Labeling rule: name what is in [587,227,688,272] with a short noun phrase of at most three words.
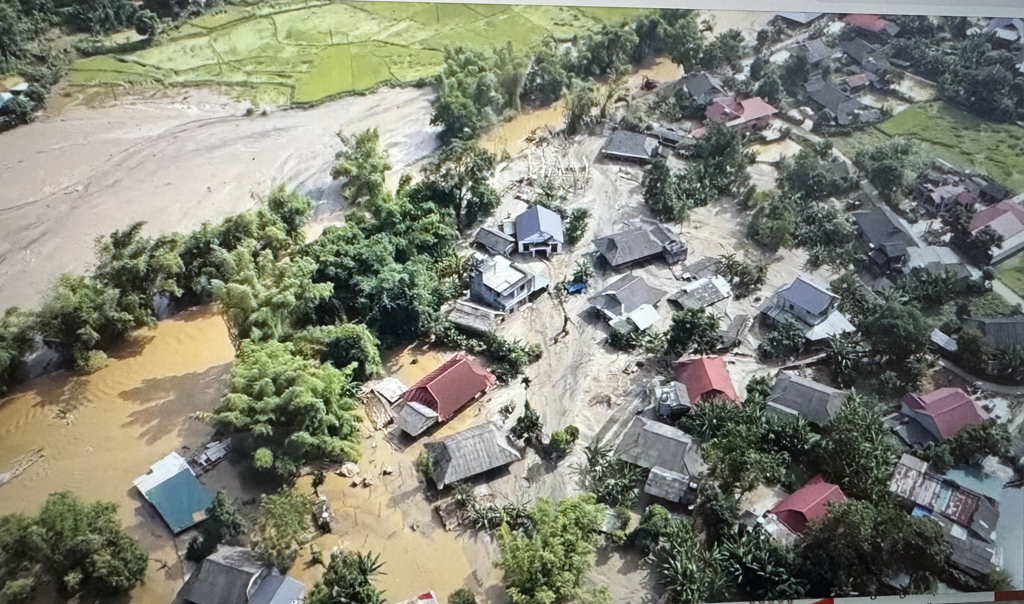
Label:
house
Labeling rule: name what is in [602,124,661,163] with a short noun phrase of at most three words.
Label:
house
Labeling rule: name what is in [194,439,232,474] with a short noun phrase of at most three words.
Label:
shed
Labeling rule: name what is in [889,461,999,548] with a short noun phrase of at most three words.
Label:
building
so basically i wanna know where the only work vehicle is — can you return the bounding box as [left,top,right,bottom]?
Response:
[634,70,656,88]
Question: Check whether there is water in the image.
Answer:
Yes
